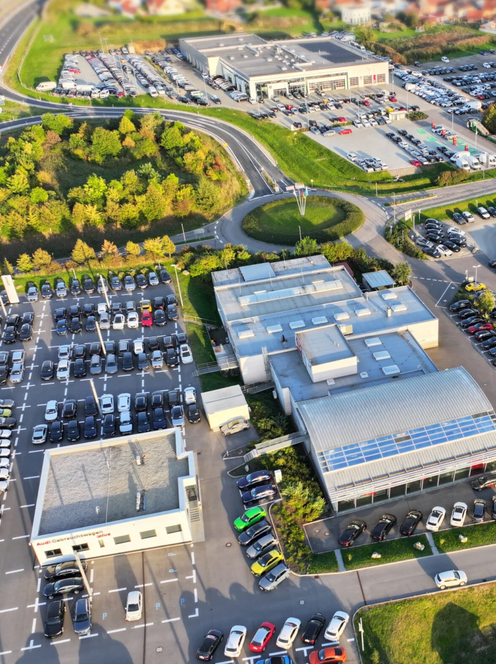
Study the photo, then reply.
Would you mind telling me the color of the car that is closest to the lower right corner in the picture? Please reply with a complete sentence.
The car that is closest to the lower right corner is white.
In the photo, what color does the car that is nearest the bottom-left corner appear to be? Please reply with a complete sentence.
The car that is nearest the bottom-left corner looks black in the image.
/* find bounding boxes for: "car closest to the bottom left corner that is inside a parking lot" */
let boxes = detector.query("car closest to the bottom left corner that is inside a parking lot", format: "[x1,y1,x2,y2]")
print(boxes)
[42,601,66,640]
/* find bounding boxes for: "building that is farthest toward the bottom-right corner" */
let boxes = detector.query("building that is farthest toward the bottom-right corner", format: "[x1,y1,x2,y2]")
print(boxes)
[294,364,496,514]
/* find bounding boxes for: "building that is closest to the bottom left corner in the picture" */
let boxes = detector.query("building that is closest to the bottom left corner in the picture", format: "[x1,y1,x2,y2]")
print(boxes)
[31,428,201,568]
